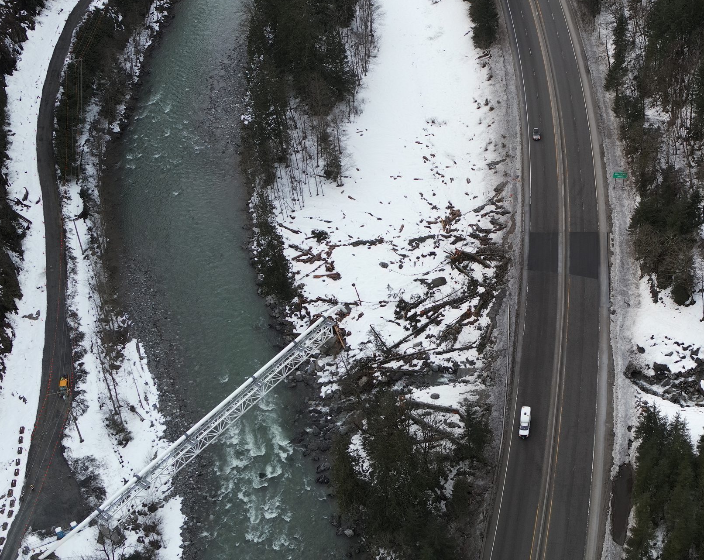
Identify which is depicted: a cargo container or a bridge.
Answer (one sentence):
The image shows a bridge.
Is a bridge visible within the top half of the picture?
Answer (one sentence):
No, no bridge is visible within the top half of the picture.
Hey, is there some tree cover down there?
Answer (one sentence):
Yes, some tree cover is visible.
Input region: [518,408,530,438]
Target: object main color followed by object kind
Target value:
white vehicle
